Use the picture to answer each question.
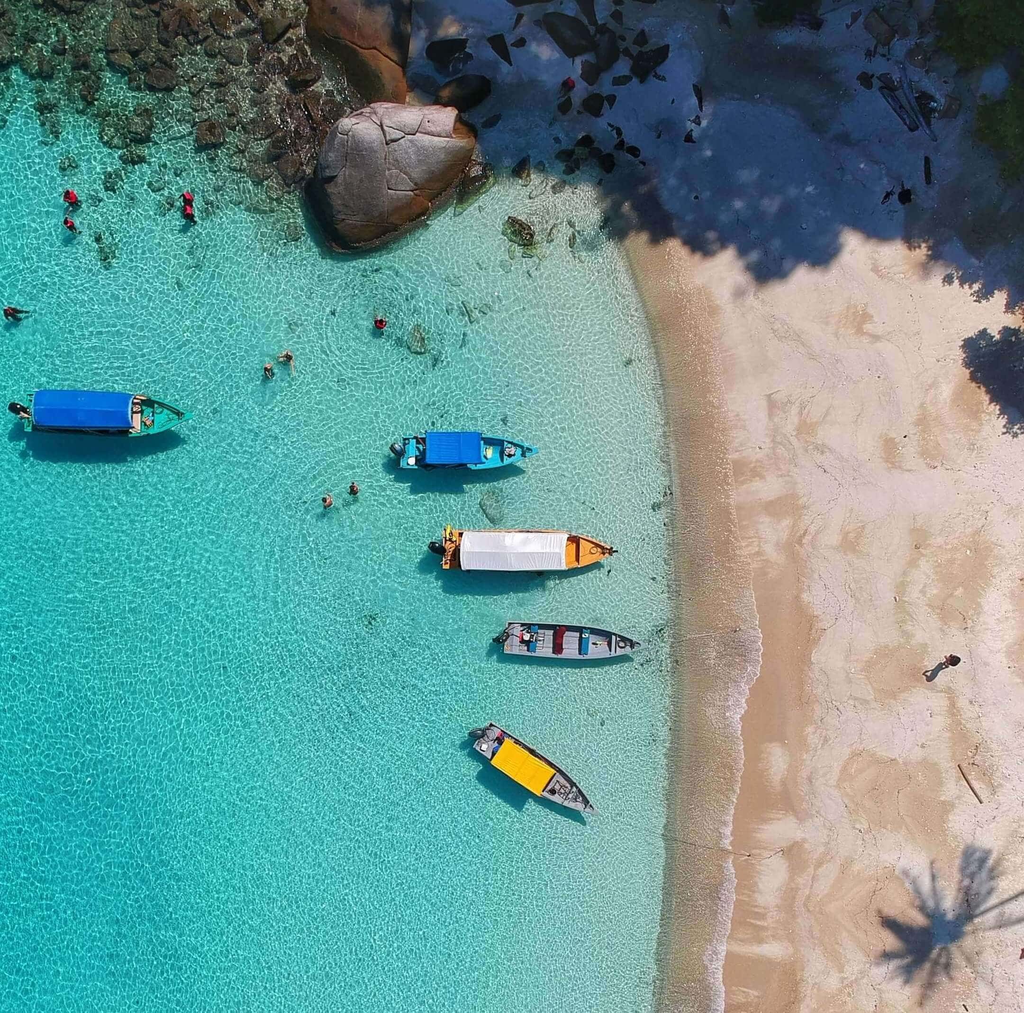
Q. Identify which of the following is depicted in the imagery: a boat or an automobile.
boat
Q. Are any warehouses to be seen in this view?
No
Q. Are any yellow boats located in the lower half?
Yes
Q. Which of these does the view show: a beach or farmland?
beach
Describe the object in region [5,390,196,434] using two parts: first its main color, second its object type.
blue boat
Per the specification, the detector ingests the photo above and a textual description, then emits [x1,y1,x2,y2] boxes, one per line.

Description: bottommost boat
[474,720,599,815]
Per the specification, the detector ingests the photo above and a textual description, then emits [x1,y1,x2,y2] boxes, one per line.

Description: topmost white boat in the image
[430,530,617,571]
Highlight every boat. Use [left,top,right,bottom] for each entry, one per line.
[388,433,538,469]
[5,390,196,434]
[474,720,599,815]
[430,530,617,571]
[494,622,647,658]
